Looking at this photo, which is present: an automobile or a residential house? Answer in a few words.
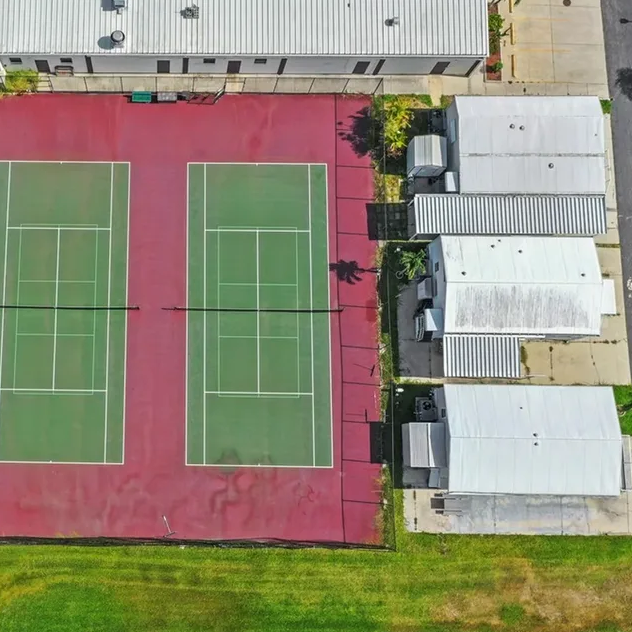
residential house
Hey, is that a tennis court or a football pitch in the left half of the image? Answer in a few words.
tennis court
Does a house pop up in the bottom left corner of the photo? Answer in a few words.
No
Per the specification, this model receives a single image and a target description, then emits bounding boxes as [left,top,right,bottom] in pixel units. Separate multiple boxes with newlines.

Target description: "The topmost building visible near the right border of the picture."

[445,95,605,196]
